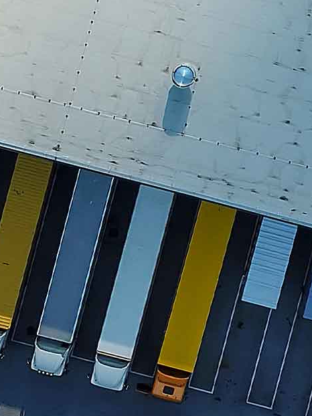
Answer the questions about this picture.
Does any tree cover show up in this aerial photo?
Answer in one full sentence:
No, tree cover can't be seen anywhere here.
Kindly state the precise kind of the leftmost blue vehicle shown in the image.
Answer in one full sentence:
The leftmost blue vehicle appears to be a truck.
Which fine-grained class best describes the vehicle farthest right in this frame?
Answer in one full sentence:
The vehicle farthest right is a truck.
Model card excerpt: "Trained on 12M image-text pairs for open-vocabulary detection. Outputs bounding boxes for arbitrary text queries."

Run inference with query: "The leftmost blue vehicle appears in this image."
[28,169,117,374]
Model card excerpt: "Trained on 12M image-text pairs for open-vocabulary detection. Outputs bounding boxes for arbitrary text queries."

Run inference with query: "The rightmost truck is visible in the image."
[139,201,235,401]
